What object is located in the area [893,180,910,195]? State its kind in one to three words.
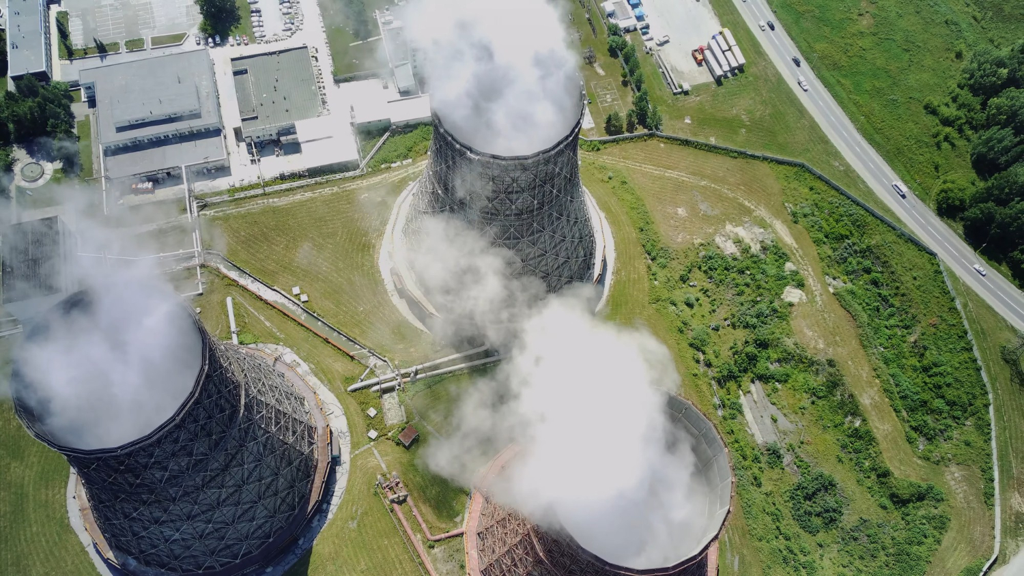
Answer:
vehicle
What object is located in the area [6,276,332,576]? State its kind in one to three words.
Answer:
cooling tower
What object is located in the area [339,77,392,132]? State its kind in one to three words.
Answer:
shed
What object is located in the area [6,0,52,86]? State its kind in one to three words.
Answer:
building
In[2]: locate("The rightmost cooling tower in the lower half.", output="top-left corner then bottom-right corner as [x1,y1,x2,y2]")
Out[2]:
[466,379,738,576]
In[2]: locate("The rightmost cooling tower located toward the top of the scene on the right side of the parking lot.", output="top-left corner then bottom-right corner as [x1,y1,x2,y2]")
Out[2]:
[394,37,604,340]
